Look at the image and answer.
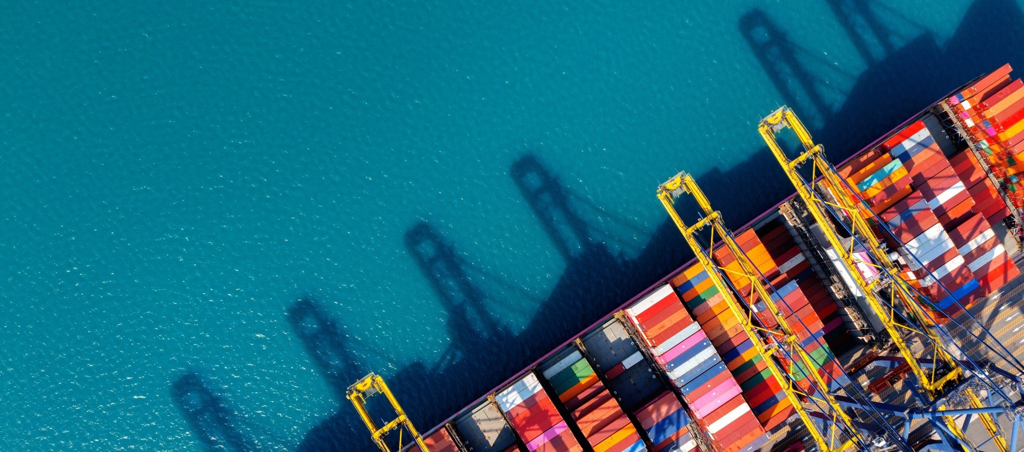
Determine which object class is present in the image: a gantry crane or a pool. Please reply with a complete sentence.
I can see a gantry crane in this picture.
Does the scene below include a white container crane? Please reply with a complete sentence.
No, no white container crane can be seen from above.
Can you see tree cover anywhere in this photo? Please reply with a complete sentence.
No, no tree cover is visible.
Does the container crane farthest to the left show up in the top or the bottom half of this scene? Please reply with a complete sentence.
The container crane farthest to the left is in the bottom half of the image.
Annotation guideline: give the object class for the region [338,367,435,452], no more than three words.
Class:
container crane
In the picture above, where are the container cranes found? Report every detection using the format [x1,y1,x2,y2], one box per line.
[755,101,1024,452]
[653,165,930,452]
[338,367,435,452]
